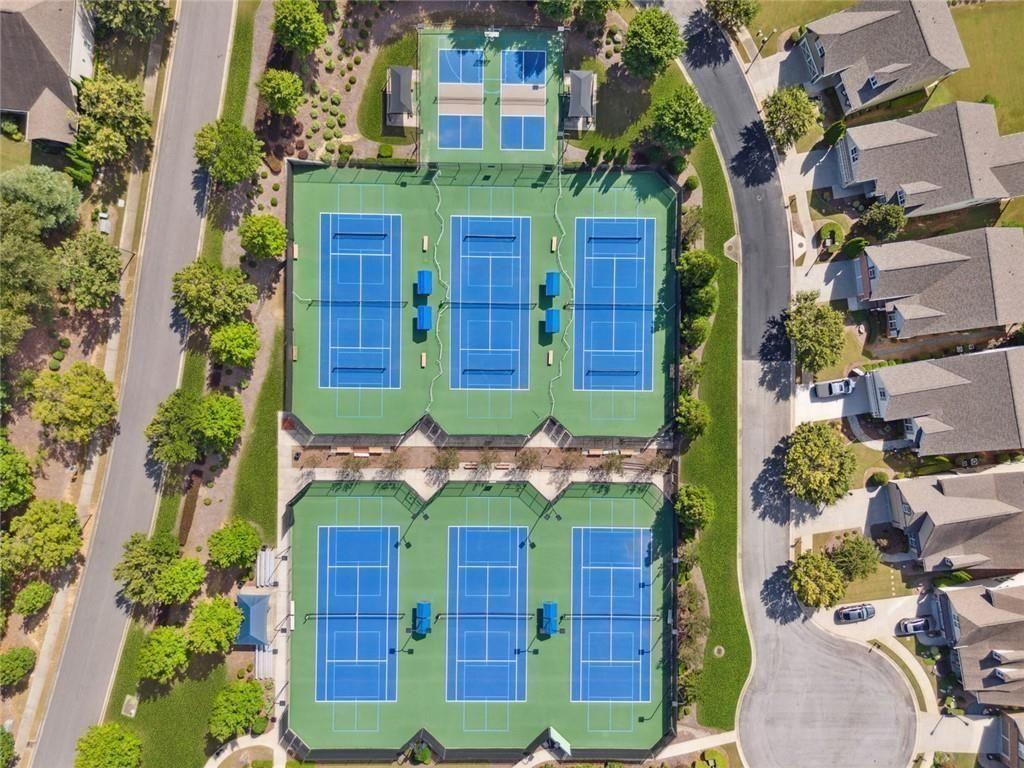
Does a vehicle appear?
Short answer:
Yes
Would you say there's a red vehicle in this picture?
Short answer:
No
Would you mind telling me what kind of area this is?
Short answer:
residential area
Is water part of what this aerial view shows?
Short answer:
No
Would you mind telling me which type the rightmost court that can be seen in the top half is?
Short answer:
tennis court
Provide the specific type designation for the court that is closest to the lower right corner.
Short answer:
tennis court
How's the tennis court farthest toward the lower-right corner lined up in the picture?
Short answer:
from top to bottom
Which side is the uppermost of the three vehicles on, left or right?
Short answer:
right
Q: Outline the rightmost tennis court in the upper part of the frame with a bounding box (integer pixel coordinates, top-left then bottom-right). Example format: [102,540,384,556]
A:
[573,189,656,419]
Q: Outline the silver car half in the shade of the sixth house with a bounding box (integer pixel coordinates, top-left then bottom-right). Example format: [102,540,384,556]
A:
[899,617,932,636]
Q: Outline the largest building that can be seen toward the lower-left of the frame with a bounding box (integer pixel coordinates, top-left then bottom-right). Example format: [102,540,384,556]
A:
[233,588,277,644]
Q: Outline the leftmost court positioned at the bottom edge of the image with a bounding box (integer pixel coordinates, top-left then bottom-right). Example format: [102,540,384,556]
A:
[316,498,400,731]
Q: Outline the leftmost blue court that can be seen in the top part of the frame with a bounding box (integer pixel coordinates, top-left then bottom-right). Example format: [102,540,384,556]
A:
[319,185,401,417]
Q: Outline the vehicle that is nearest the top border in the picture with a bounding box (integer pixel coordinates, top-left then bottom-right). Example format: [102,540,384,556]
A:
[817,379,859,399]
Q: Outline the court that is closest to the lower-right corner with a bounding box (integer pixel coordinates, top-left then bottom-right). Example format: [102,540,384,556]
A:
[571,499,652,731]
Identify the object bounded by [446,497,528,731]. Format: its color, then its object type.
blue tennis court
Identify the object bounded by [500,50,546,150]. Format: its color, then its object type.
blue sports court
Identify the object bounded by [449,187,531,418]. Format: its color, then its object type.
blue tennis court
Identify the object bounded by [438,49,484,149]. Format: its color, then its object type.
blue sports court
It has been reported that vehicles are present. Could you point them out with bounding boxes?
[840,605,877,624]
[817,379,859,399]
[899,617,932,636]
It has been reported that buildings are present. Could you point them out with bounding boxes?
[389,66,415,121]
[835,101,1024,225]
[850,228,1024,340]
[886,463,1024,567]
[0,0,94,148]
[233,588,277,644]
[861,347,1024,456]
[926,573,1024,704]
[566,70,592,124]
[798,0,967,110]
